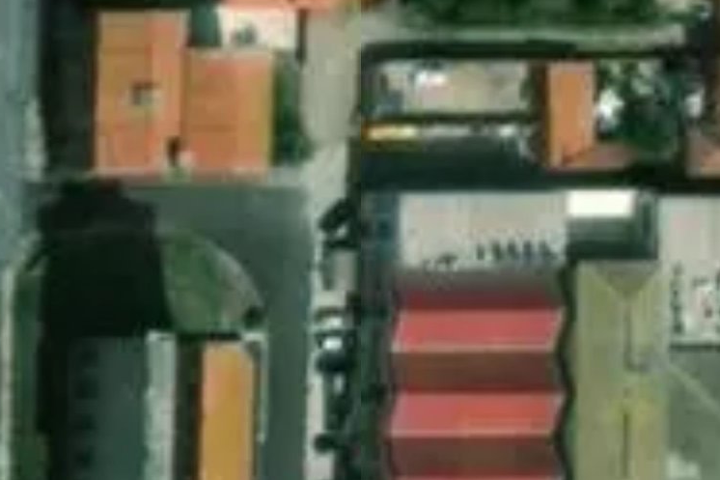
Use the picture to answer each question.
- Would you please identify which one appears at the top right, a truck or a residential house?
residential house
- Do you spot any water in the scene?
No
